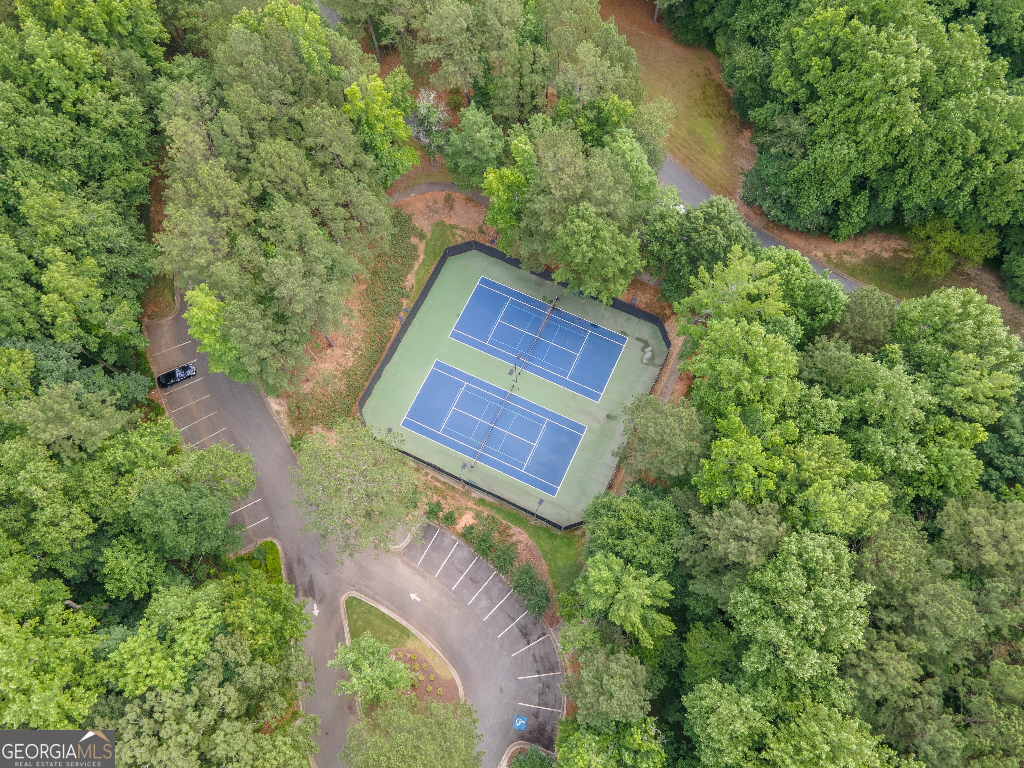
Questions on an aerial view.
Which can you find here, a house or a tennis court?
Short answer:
tennis court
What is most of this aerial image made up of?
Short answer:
trees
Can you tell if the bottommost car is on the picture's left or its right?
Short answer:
left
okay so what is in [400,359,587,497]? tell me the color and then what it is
blue tennis court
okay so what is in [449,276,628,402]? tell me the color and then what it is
blue tennis court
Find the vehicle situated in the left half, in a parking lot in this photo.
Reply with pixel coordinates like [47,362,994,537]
[158,365,195,387]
